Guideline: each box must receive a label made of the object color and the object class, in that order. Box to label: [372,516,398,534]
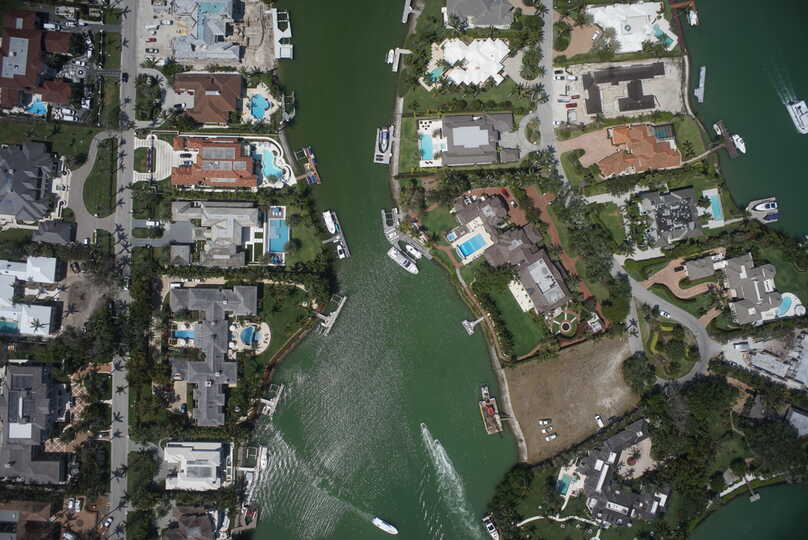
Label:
white boat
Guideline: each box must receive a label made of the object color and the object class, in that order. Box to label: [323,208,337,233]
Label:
white boat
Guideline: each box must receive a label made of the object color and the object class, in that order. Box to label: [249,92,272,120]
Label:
blue swimming pool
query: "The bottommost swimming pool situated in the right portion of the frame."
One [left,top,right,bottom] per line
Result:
[557,472,571,497]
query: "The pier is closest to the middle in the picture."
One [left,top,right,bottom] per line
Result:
[380,208,432,261]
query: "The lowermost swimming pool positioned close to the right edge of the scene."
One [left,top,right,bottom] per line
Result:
[774,293,805,318]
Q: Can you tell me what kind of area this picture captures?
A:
residential area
